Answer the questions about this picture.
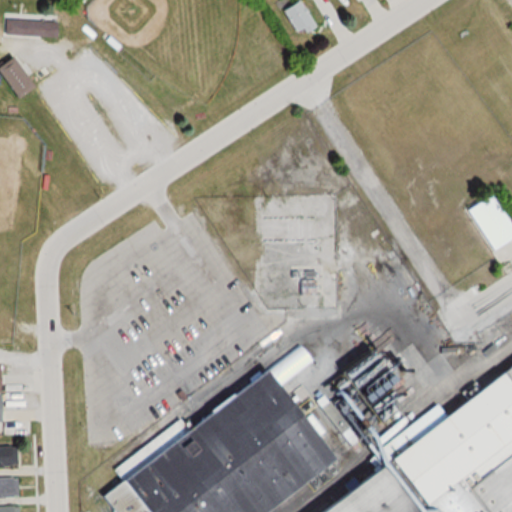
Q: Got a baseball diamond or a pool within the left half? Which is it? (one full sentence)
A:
There is a baseball diamond within the left half.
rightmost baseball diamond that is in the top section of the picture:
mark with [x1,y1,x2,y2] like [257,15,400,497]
[86,0,240,106]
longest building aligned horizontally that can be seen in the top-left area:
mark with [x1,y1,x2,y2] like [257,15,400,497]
[5,18,60,38]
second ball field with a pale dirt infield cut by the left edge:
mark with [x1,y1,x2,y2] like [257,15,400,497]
[0,134,26,232]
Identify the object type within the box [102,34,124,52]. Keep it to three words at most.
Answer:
vehicle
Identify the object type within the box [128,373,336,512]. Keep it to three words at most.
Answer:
building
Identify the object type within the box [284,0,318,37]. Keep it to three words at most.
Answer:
house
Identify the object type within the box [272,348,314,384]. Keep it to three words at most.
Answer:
shed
